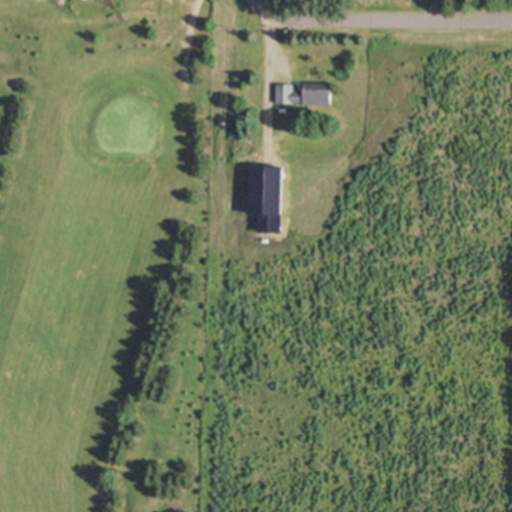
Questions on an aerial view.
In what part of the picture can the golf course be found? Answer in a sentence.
The golf course sits in the left section of the image.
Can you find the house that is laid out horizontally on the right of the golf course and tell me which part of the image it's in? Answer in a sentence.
The house that is laid out horizontally on the right of the golf course is in the top part of the image.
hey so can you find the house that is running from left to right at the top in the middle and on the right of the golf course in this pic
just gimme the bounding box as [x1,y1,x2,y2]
[276,82,332,106]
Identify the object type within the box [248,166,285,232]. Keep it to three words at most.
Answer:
barn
